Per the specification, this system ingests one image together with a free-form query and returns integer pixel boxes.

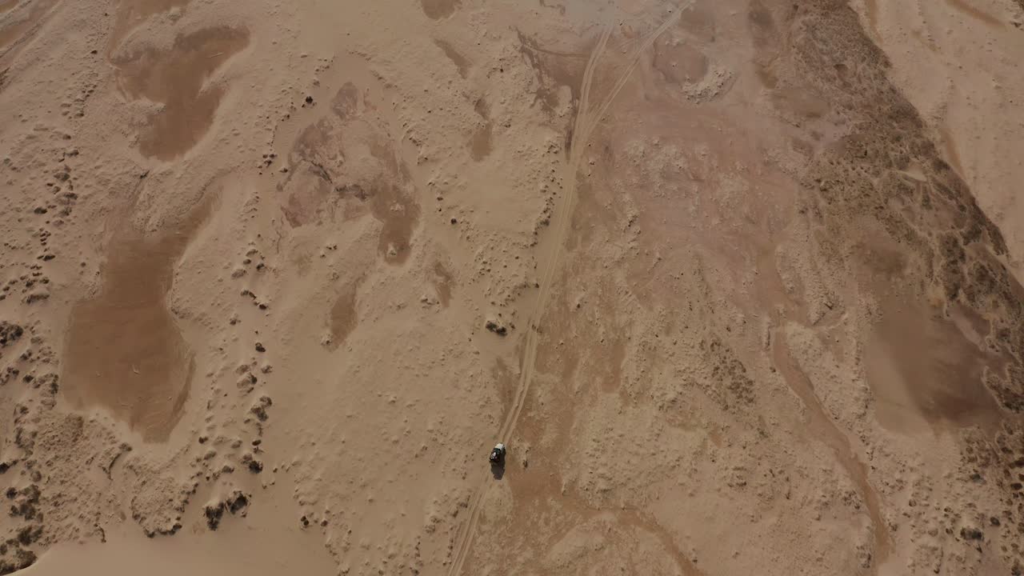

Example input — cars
[489,443,505,464]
